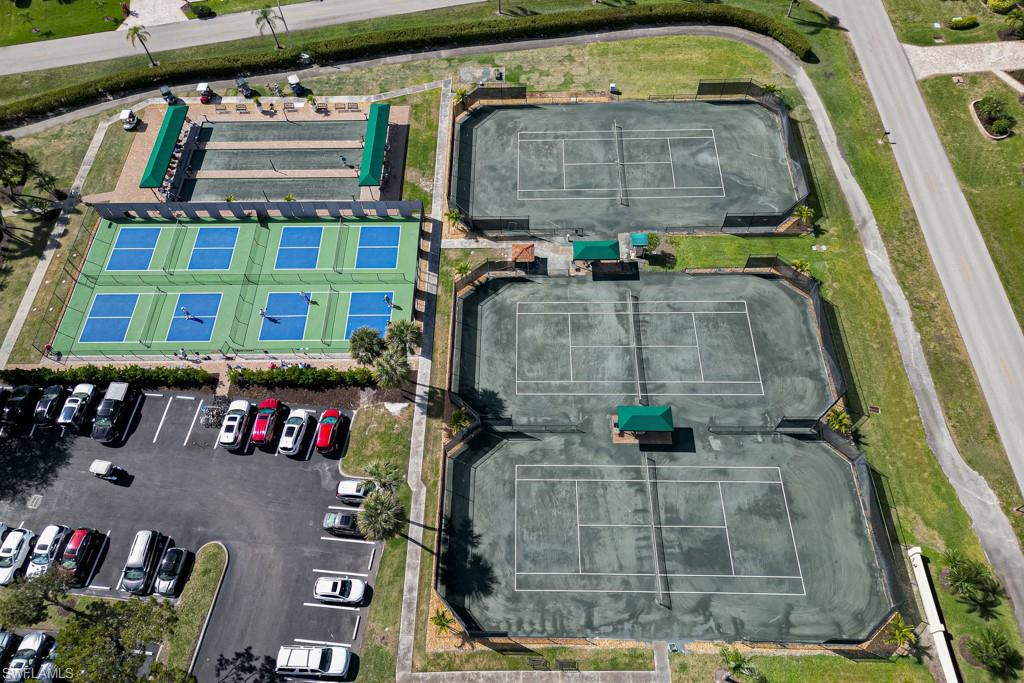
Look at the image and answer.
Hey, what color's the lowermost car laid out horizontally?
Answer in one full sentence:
The color of the lowermost car laid out horizontally is white.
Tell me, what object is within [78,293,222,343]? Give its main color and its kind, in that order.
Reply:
blue sports court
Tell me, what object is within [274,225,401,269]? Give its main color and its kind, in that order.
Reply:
blue sports court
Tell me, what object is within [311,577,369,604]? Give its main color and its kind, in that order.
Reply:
white car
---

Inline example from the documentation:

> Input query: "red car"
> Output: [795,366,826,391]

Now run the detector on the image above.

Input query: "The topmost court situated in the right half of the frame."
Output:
[451,101,797,238]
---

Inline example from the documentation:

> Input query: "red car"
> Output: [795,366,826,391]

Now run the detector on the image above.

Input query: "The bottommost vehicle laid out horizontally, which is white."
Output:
[276,644,351,679]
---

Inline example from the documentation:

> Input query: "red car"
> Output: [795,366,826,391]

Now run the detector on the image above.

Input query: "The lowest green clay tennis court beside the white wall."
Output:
[440,432,891,643]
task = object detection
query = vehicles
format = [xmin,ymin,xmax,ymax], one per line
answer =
[196,83,215,105]
[250,401,282,448]
[29,384,69,429]
[311,577,369,604]
[276,644,351,679]
[279,411,309,458]
[318,512,365,538]
[158,86,179,106]
[332,478,383,503]
[59,527,102,586]
[315,410,343,456]
[219,403,252,450]
[4,628,51,683]
[91,460,126,482]
[0,527,38,585]
[27,524,70,581]
[0,623,22,681]
[236,78,253,100]
[154,547,190,598]
[93,384,135,441]
[0,388,11,417]
[288,75,304,97]
[57,384,96,429]
[120,530,164,594]
[120,110,139,132]
[0,515,12,547]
